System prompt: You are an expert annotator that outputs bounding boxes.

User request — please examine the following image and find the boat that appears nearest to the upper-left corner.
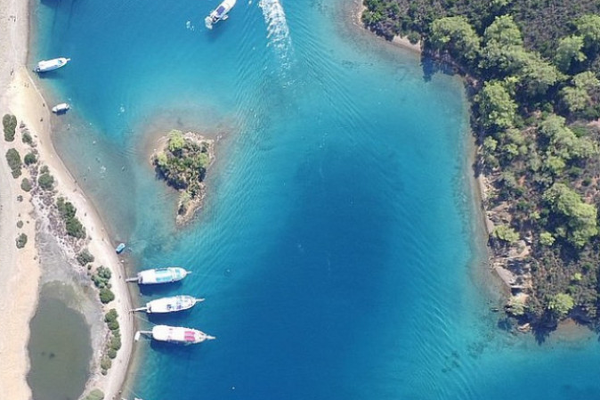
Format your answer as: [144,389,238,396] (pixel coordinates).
[30,57,70,72]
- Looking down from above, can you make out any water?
Yes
